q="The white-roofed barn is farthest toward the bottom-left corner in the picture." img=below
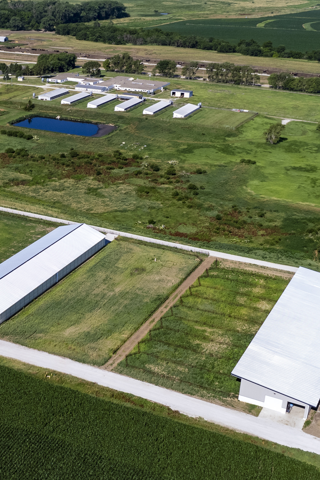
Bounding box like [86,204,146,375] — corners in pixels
[0,222,107,325]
